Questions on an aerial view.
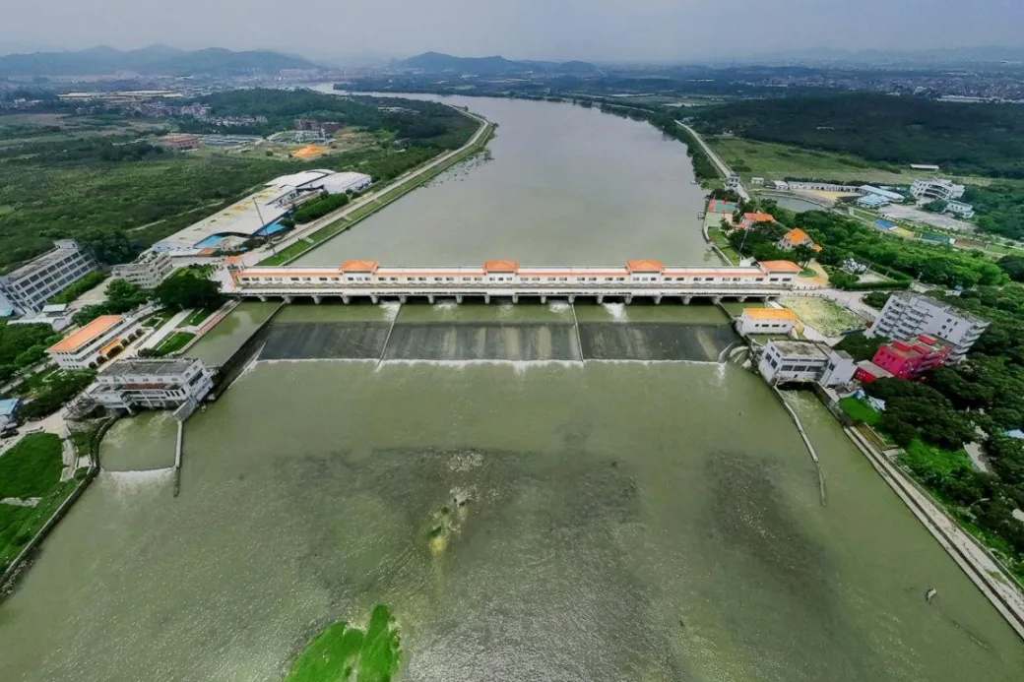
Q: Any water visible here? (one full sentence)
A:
Yes, some water is visible.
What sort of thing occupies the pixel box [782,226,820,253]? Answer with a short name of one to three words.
house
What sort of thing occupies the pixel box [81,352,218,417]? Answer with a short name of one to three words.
building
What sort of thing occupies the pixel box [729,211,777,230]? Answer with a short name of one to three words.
house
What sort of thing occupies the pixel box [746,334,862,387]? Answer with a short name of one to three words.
building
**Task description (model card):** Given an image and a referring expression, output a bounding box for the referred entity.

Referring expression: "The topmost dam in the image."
[228,260,811,304]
